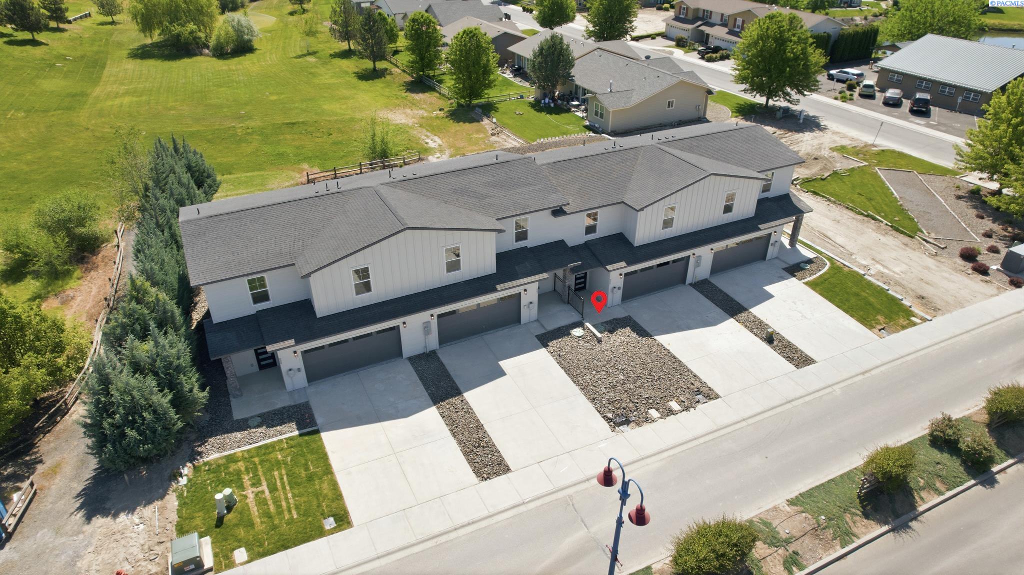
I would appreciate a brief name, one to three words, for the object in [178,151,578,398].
house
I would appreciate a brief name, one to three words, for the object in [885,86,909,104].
car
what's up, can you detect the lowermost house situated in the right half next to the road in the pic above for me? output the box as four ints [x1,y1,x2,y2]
[525,120,816,308]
